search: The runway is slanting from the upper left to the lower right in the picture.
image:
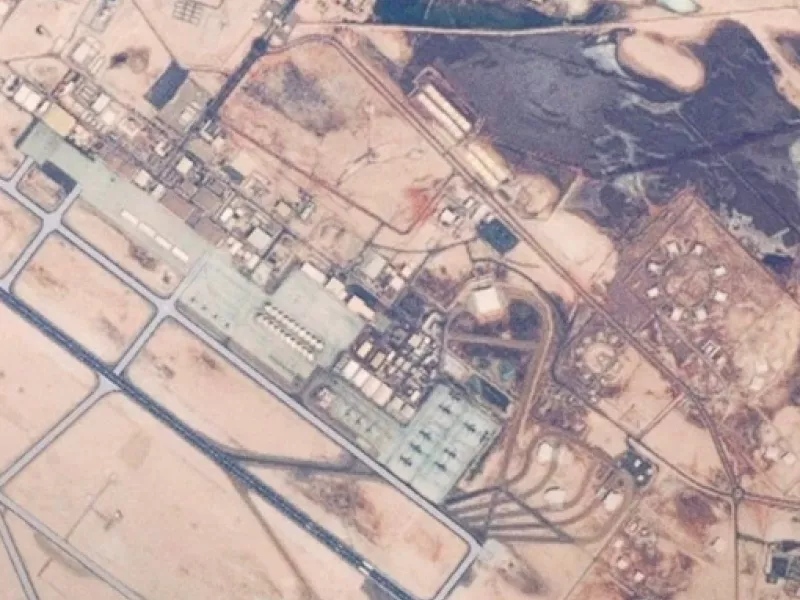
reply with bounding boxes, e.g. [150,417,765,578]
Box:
[0,287,415,600]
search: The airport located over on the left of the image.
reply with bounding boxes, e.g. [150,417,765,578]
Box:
[0,120,499,600]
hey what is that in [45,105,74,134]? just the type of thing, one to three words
building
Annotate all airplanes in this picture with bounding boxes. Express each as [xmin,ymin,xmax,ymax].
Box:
[420,430,430,441]
[401,456,411,466]
[410,443,420,453]
[439,405,449,415]
[434,462,445,472]
[446,448,456,459]
[464,422,474,432]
